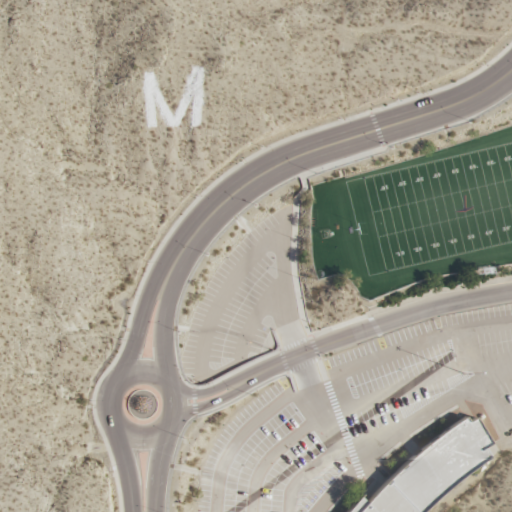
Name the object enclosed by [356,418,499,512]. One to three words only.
building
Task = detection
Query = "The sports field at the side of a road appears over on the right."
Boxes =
[312,128,512,300]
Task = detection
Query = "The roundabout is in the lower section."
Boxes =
[109,370,176,437]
